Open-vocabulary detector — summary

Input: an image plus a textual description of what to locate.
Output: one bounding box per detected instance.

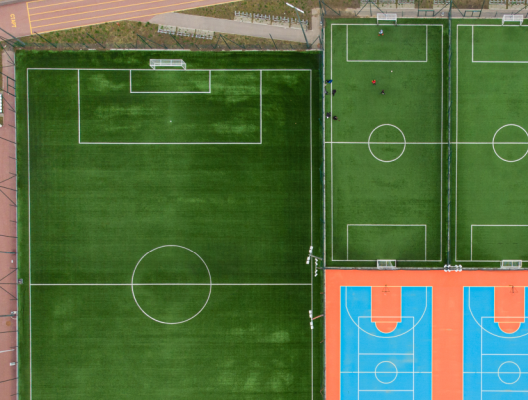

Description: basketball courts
[448,270,528,400]
[326,270,448,400]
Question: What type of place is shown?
sports ground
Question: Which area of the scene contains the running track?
top left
